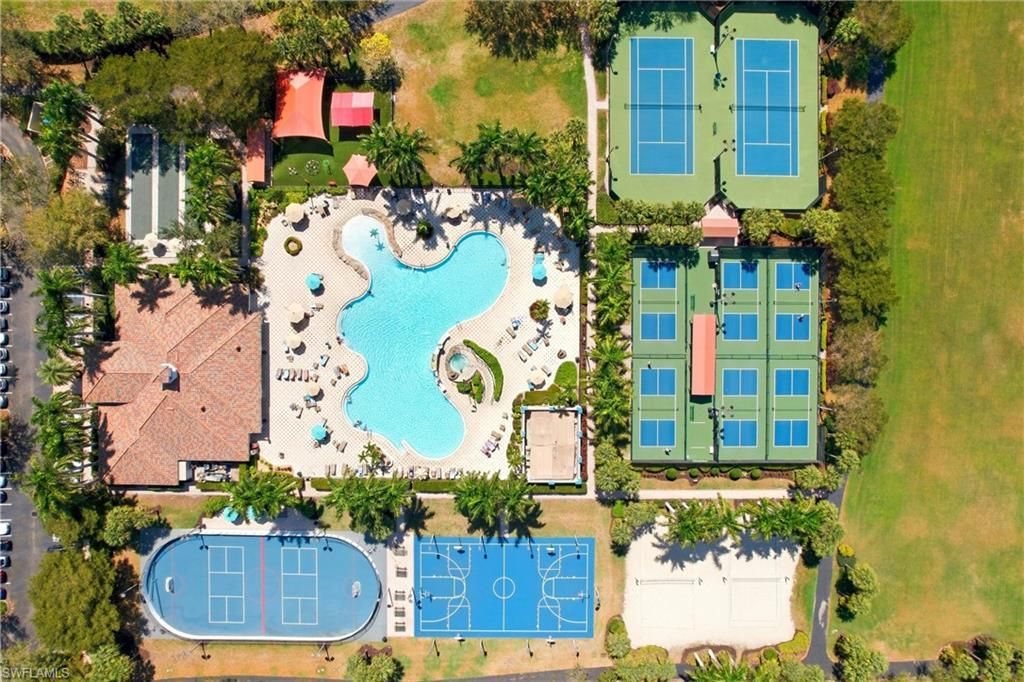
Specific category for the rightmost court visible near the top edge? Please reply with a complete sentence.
What you see as the rightmost court visible near the top edge is a tennis court.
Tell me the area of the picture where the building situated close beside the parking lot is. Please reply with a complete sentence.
The building situated close beside the parking lot is located in the left region of the scene.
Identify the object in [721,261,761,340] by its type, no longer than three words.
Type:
sports court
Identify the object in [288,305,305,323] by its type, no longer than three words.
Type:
umbrella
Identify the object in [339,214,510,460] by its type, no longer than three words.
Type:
swimming pool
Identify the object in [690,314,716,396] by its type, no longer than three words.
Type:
building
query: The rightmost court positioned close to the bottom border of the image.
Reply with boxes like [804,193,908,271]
[623,518,802,654]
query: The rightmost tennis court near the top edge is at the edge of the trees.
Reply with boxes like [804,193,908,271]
[718,5,819,209]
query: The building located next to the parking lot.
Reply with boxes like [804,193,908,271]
[81,283,265,485]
